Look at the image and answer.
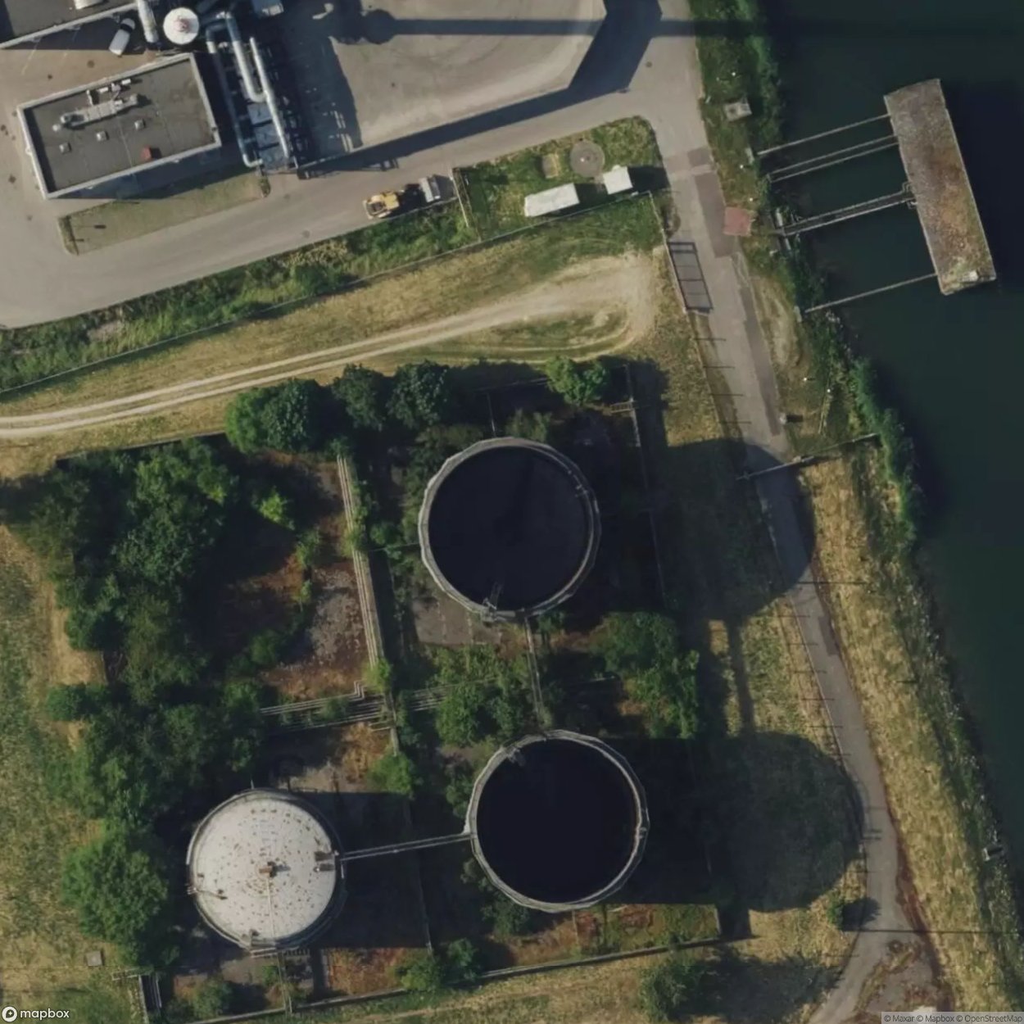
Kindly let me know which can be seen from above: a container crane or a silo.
silo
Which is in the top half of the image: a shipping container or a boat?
shipping container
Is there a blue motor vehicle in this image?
No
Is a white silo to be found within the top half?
Yes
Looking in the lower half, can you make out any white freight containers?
No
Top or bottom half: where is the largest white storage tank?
bottom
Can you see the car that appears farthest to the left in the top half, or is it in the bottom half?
top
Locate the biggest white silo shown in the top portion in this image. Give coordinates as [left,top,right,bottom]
[163,8,199,44]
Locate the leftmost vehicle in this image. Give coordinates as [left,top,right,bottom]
[107,17,135,53]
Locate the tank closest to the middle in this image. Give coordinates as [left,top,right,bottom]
[420,439,599,623]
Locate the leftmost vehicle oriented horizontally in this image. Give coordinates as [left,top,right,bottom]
[364,174,443,217]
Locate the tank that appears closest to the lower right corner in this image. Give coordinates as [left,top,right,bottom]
[464,731,648,911]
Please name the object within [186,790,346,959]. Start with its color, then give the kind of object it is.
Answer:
white storage tank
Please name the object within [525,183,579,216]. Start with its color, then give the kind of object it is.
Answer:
white shipping container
